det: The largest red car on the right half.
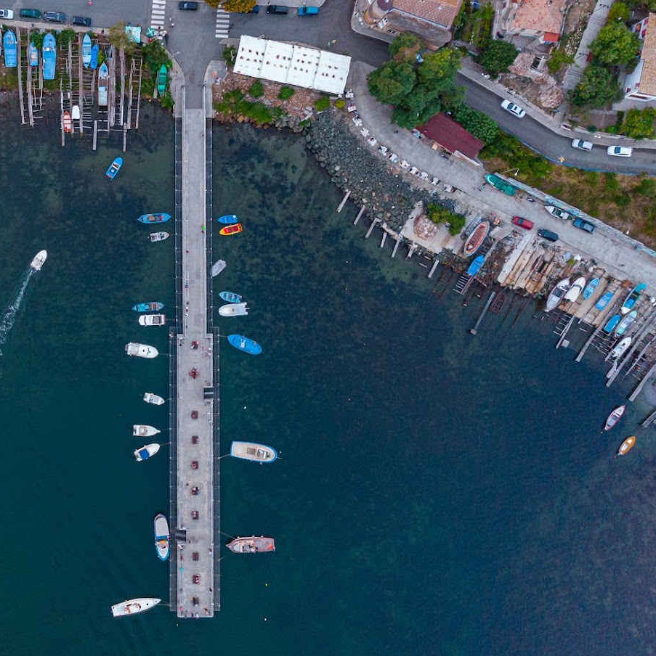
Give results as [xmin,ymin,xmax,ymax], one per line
[510,215,534,231]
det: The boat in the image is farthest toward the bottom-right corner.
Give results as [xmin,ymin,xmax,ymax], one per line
[615,436,636,458]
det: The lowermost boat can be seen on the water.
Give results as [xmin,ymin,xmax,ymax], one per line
[111,598,169,617]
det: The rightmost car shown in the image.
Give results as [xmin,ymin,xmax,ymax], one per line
[605,144,632,158]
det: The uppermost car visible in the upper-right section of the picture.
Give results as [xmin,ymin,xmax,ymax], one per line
[499,100,527,121]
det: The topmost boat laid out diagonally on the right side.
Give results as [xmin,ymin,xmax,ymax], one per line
[484,173,519,198]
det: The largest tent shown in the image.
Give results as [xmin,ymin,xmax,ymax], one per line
[231,36,352,98]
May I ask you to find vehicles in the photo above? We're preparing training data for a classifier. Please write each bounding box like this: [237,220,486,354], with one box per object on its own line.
[266,3,289,17]
[510,215,534,231]
[535,228,559,242]
[20,6,42,20]
[569,137,593,153]
[0,7,15,21]
[43,10,67,24]
[178,0,197,13]
[570,217,597,235]
[237,4,259,17]
[499,100,527,121]
[72,15,92,28]
[605,144,632,158]
[297,4,319,18]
